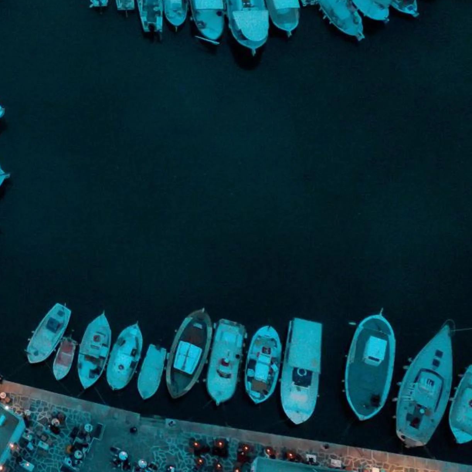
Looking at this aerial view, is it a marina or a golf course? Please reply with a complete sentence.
The picture captures a marina.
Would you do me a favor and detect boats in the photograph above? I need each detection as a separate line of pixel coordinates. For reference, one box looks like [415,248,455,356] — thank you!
[115,0,135,16]
[386,0,421,22]
[134,342,168,417]
[239,314,282,432]
[280,316,326,439]
[393,324,469,463]
[318,0,367,42]
[225,0,268,57]
[11,290,74,386]
[341,308,396,454]
[138,0,163,40]
[77,291,112,401]
[166,309,211,426]
[263,0,301,41]
[54,334,76,395]
[91,0,110,12]
[206,311,246,424]
[188,0,228,48]
[349,0,391,25]
[448,364,472,471]
[109,323,143,410]
[163,0,188,31]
